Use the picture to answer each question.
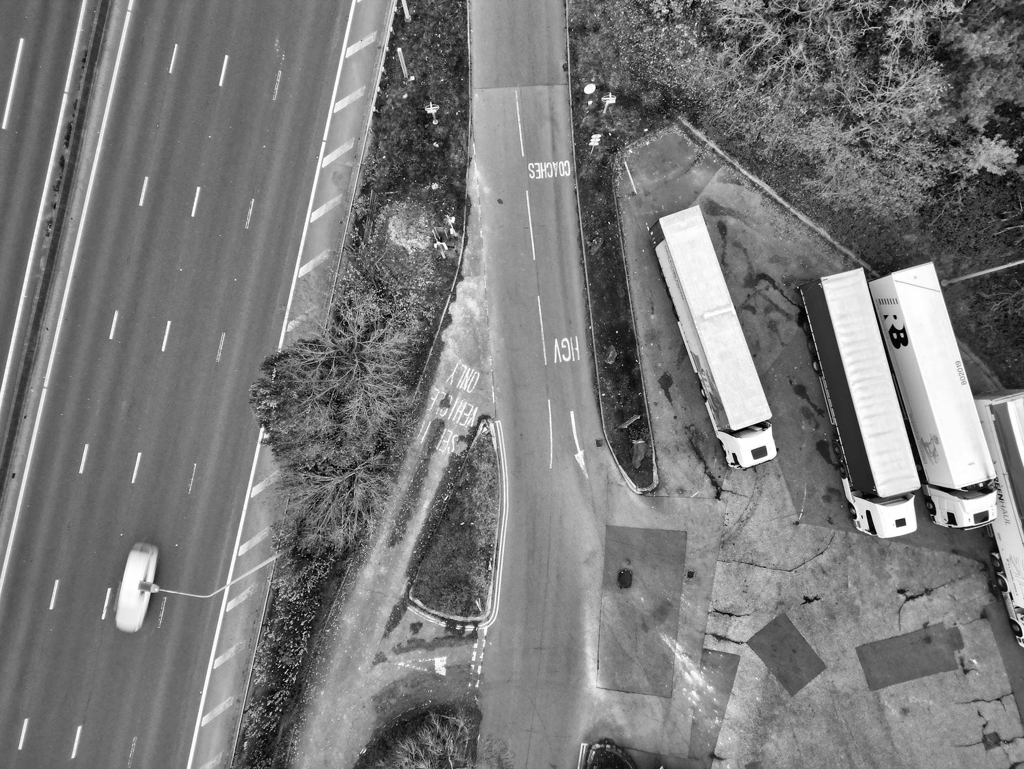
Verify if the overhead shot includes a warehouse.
No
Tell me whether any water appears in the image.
No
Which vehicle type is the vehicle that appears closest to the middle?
truck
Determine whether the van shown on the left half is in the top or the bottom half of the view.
bottom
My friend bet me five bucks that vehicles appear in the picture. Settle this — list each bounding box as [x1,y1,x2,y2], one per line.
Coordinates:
[797,269,921,542]
[649,206,781,473]
[867,263,996,532]
[974,393,1024,652]
[111,542,166,634]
